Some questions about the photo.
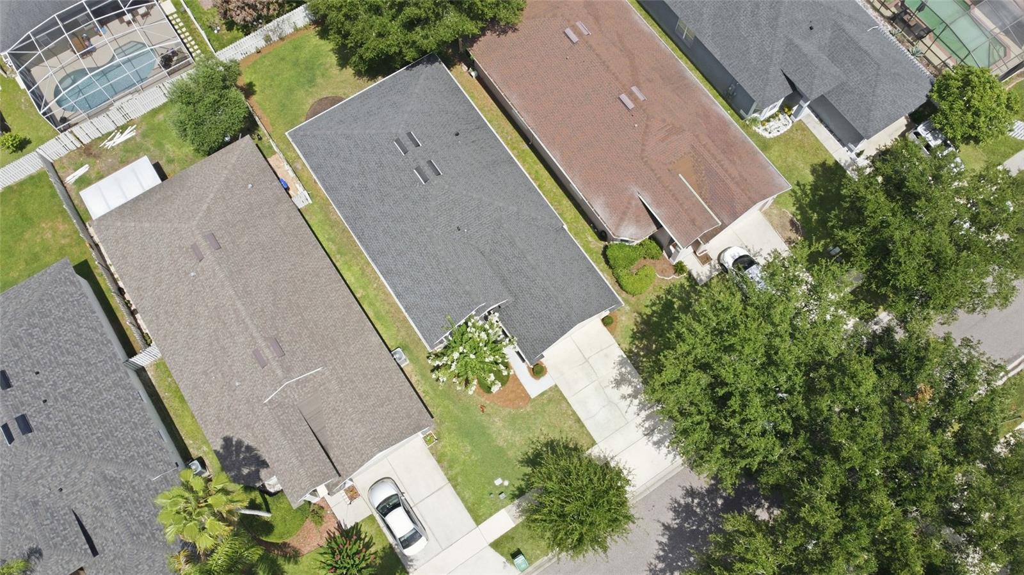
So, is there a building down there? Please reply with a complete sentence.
Yes, there is a building in the image.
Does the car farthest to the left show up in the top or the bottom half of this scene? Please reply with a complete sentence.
Seen from above, the car farthest to the left lies in the bottom half of the view.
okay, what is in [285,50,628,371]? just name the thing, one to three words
house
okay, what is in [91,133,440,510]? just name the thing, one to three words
house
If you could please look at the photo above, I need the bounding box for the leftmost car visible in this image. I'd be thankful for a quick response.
[366,475,431,564]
